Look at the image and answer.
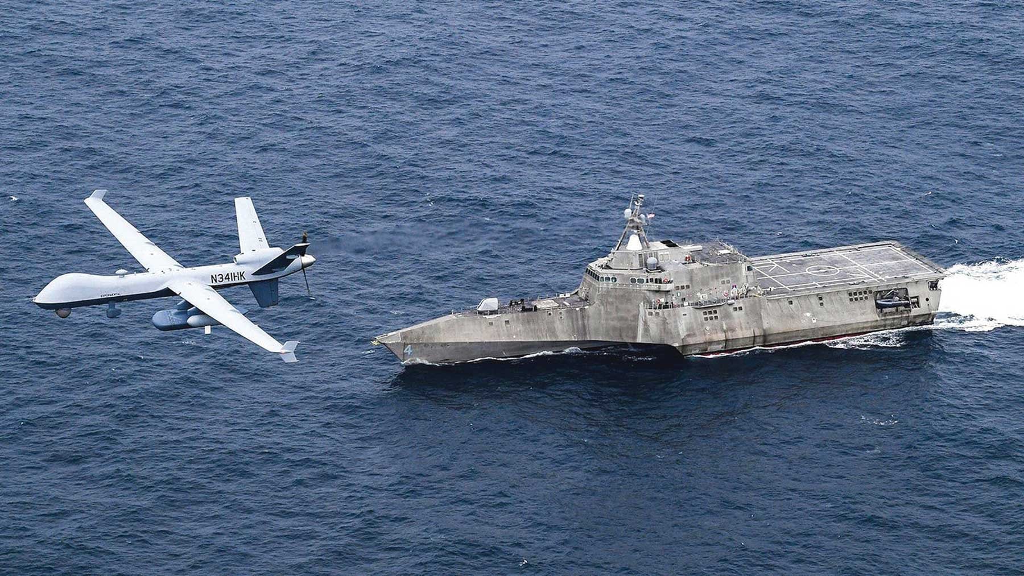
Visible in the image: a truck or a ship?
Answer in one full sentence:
Of the two, only a ship appears.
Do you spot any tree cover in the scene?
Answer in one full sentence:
No, the scene doesn't show any tree cover.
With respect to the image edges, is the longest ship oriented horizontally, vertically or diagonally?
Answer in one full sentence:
The longest ship is oriented horizontally.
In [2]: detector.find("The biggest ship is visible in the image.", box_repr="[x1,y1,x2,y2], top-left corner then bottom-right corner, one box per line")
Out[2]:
[371,194,950,366]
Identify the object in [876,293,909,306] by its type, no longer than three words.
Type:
boat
